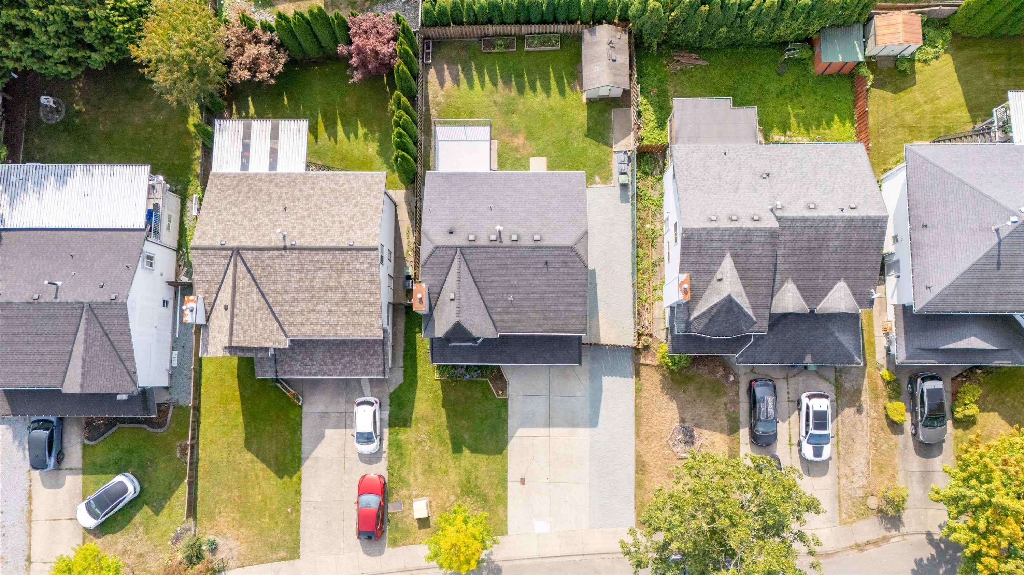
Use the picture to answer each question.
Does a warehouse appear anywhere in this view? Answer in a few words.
No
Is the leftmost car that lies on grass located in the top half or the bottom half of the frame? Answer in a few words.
bottom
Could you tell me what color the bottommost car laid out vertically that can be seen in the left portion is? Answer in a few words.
red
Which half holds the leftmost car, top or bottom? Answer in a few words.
bottom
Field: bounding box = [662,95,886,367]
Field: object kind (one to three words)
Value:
house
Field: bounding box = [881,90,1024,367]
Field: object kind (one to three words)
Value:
house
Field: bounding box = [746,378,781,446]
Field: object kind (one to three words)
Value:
car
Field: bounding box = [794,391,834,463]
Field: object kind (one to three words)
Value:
car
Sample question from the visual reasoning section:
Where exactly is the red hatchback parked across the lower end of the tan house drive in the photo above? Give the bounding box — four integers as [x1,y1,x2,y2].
[355,472,389,542]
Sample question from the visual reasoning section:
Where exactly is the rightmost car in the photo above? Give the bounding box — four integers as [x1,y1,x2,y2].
[909,372,953,444]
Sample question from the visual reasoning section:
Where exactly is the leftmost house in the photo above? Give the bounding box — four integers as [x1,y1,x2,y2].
[0,164,180,419]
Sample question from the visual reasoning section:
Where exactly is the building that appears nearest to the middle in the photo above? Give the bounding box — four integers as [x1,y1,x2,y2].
[412,119,590,367]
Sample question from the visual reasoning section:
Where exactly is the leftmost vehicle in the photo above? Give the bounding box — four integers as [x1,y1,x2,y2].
[25,419,65,473]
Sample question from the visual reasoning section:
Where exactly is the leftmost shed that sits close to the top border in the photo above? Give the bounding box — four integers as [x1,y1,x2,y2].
[579,25,632,102]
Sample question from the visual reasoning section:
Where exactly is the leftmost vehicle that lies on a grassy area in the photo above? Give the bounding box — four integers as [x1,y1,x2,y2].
[79,472,145,527]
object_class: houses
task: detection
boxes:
[881,90,1024,367]
[662,95,886,367]
[412,119,590,367]
[0,164,180,419]
[180,118,397,380]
